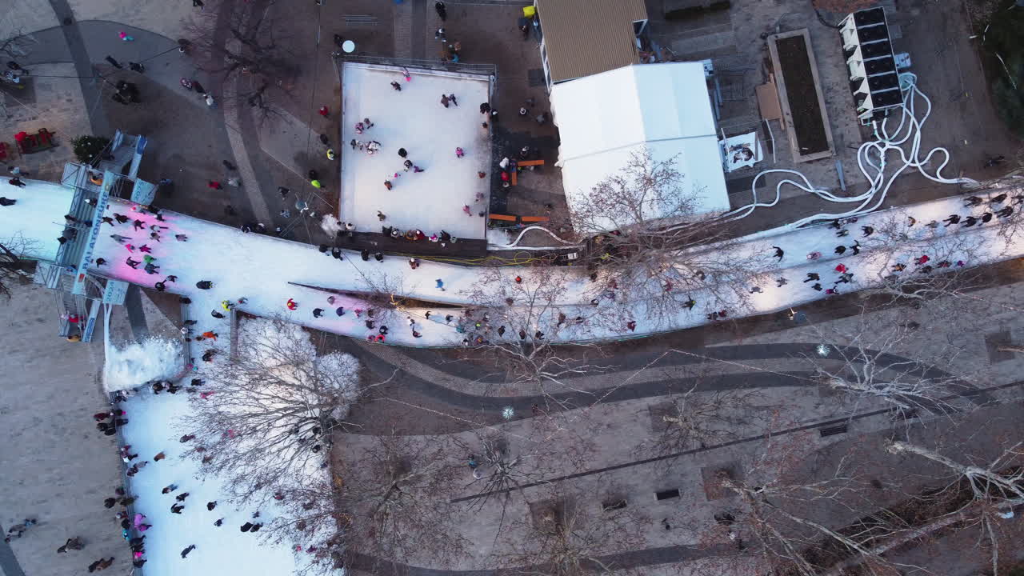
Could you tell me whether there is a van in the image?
No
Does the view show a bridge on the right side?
No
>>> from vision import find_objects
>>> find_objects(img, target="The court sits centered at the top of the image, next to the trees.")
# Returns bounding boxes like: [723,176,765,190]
[339,63,489,240]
